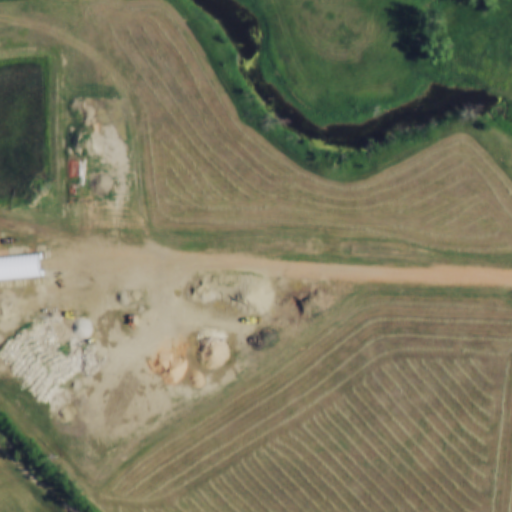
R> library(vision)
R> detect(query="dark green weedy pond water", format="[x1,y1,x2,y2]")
[0,62,46,202]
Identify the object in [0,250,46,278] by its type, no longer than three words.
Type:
shed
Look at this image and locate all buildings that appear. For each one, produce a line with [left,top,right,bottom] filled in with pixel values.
[69,160,78,178]
[0,250,46,278]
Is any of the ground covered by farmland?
Yes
